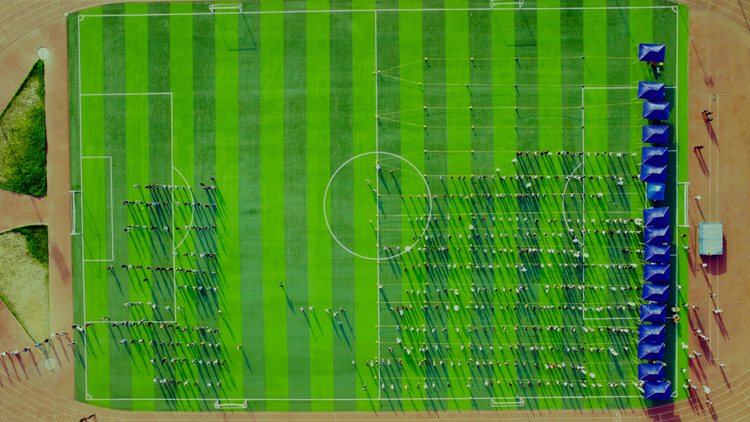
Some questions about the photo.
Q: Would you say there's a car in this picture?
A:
No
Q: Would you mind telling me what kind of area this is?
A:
sports ground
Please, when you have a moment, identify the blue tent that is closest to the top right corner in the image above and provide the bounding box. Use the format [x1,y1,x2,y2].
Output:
[633,43,666,64]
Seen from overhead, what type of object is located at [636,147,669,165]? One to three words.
tent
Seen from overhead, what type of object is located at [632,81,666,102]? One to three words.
tent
